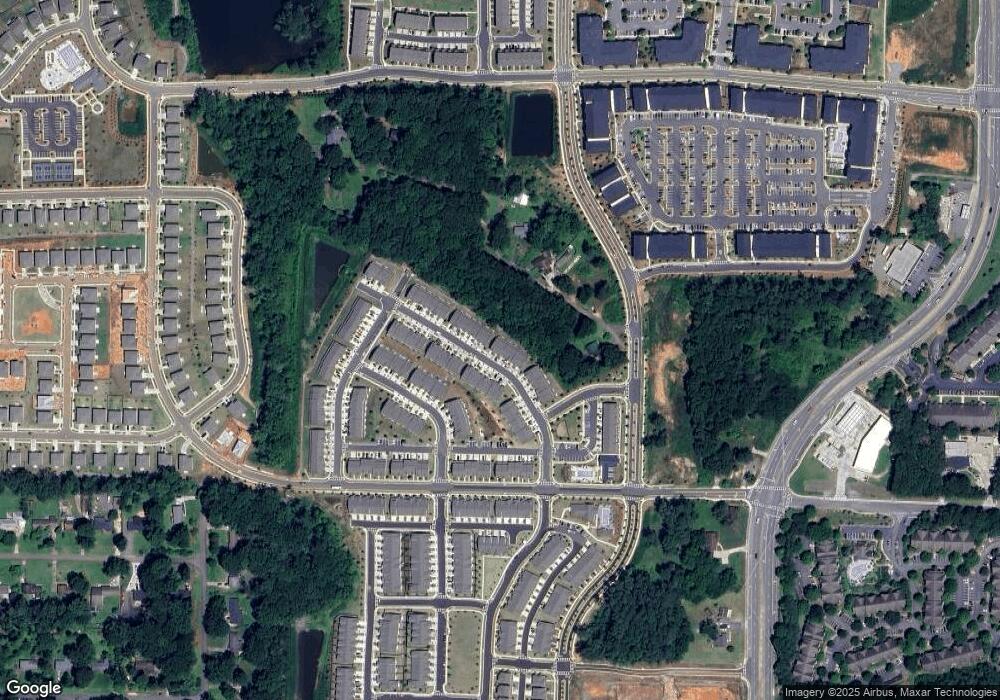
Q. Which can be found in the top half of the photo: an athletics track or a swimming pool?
swimming pool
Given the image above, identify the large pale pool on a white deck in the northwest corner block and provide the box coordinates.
[41,40,91,91]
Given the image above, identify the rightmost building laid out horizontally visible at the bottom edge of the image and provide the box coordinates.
[920,638,985,669]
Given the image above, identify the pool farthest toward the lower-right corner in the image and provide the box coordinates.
[848,560,875,584]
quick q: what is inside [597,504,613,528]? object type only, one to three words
swimming pool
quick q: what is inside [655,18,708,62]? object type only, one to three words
building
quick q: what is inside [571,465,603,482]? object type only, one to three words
swimming pool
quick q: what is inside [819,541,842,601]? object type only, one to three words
building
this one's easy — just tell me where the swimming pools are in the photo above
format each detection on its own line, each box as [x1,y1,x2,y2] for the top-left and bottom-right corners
[41,40,91,91]
[597,504,613,528]
[848,560,875,584]
[571,465,603,482]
